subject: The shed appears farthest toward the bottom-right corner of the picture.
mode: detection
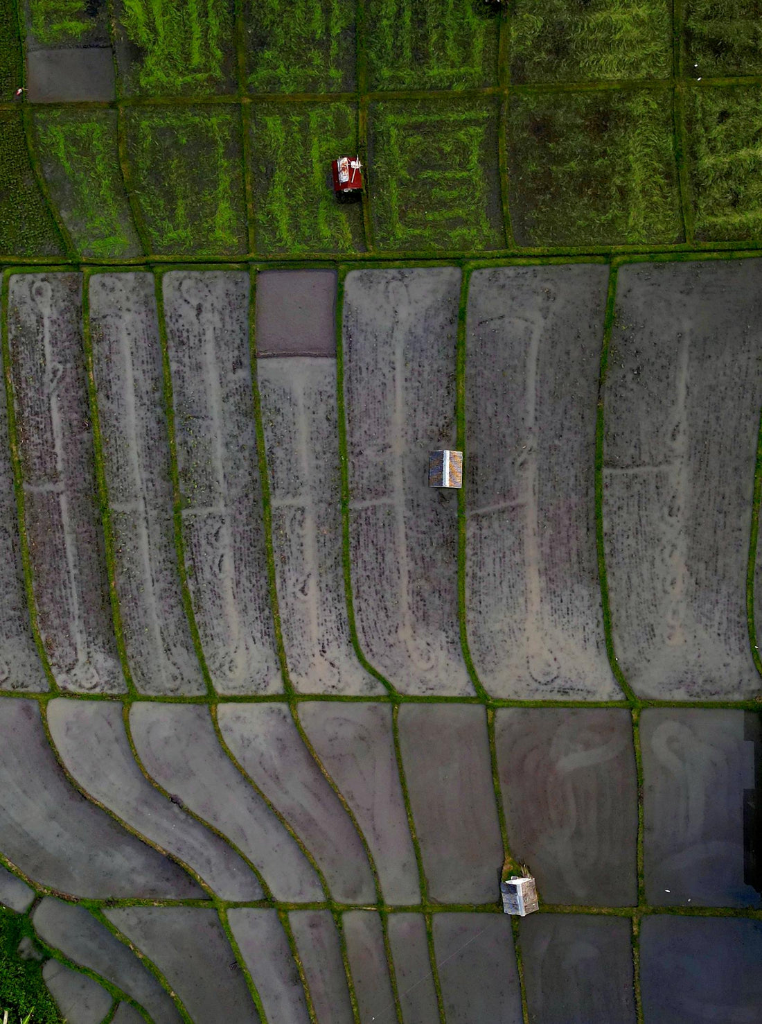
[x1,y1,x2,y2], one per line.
[499,876,539,917]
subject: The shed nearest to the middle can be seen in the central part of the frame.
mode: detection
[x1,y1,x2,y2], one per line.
[428,450,463,489]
